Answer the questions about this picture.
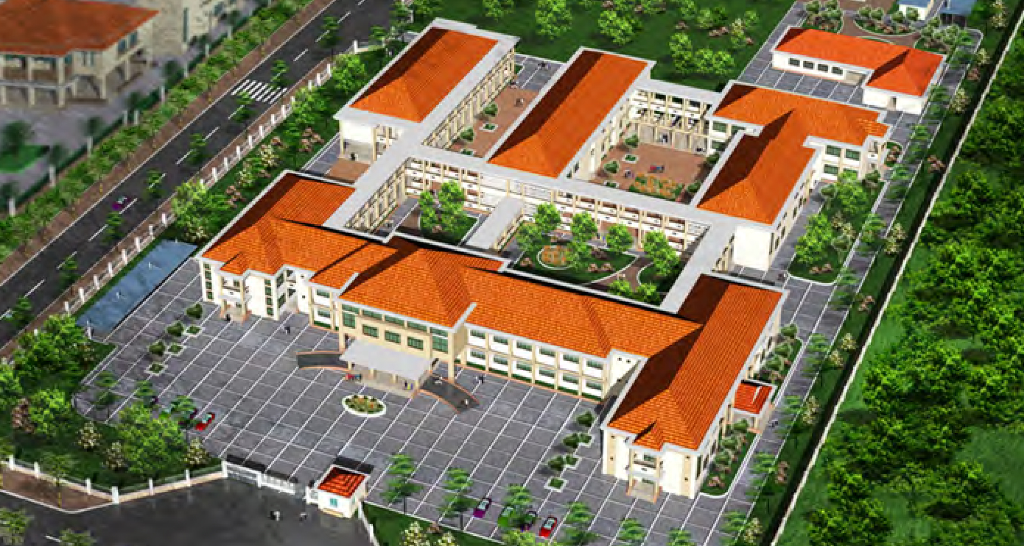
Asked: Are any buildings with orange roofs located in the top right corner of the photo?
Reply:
Yes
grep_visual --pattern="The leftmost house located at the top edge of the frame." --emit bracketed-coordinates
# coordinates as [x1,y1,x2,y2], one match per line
[0,0,161,104]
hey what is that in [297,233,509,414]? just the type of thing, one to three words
building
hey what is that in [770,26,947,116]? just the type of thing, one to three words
building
